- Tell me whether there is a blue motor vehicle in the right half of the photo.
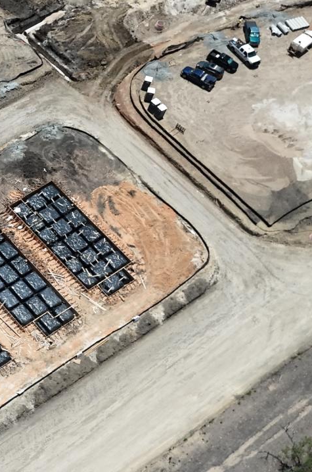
Yes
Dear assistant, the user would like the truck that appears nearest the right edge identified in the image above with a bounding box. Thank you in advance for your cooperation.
[279,28,312,59]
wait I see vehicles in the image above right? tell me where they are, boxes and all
[179,68,218,90]
[205,47,241,73]
[279,28,312,59]
[231,35,262,64]
[242,21,262,46]
[193,62,226,81]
